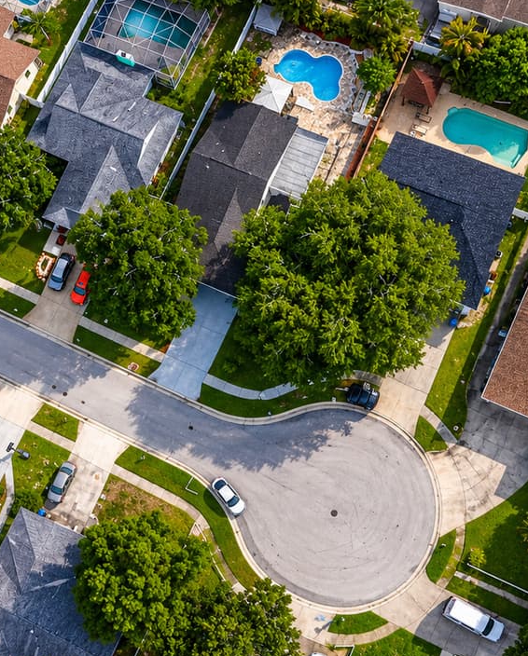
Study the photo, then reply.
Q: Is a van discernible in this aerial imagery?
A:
Yes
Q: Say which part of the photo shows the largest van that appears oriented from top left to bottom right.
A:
bottom right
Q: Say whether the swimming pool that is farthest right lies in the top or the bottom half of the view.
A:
top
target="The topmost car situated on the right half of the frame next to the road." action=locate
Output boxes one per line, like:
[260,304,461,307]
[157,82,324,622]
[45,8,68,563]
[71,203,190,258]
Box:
[339,379,385,413]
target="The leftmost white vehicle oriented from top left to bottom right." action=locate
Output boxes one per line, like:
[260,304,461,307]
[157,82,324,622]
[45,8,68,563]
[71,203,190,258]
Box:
[209,476,248,519]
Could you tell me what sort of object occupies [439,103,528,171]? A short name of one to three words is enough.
swimming pool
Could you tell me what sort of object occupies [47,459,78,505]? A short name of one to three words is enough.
car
